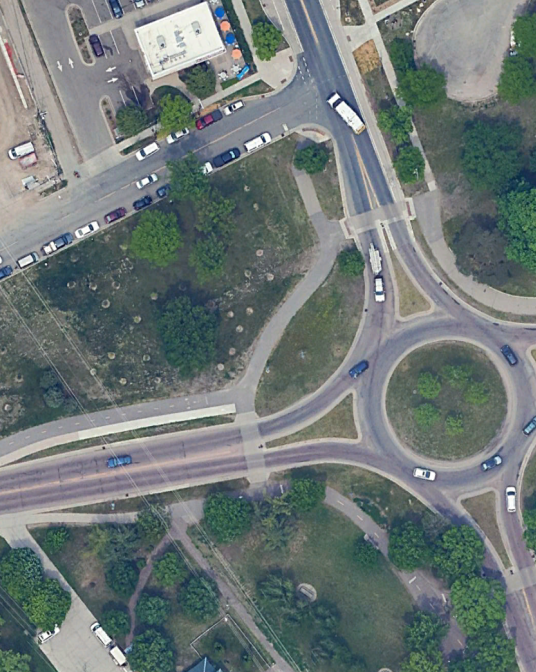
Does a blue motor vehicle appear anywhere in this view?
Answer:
Yes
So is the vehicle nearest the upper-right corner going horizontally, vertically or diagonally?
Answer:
diagonally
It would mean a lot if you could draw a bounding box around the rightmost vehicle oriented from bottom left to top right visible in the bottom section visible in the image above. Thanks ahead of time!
[522,415,536,436]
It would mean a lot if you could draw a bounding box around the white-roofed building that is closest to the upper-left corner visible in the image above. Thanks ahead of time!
[136,0,226,81]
